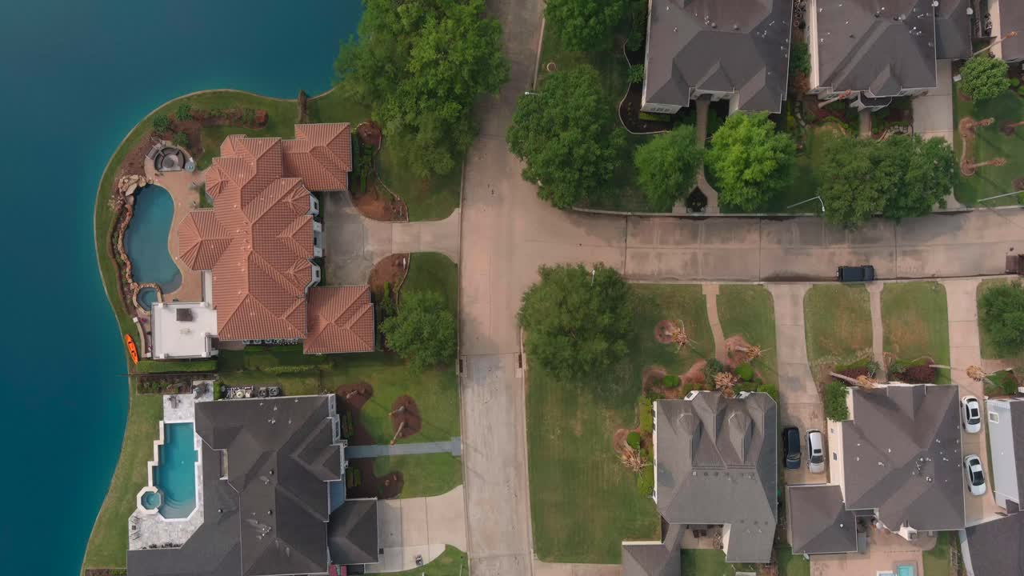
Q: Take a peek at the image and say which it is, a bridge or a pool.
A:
pool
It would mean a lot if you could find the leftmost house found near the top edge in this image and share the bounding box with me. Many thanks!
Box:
[642,0,794,120]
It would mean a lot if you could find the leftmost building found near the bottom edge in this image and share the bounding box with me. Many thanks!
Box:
[127,391,380,576]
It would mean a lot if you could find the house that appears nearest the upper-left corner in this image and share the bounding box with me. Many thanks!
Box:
[152,123,375,357]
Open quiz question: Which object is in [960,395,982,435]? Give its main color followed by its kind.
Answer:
white car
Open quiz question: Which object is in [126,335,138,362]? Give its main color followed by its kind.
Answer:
orange boat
